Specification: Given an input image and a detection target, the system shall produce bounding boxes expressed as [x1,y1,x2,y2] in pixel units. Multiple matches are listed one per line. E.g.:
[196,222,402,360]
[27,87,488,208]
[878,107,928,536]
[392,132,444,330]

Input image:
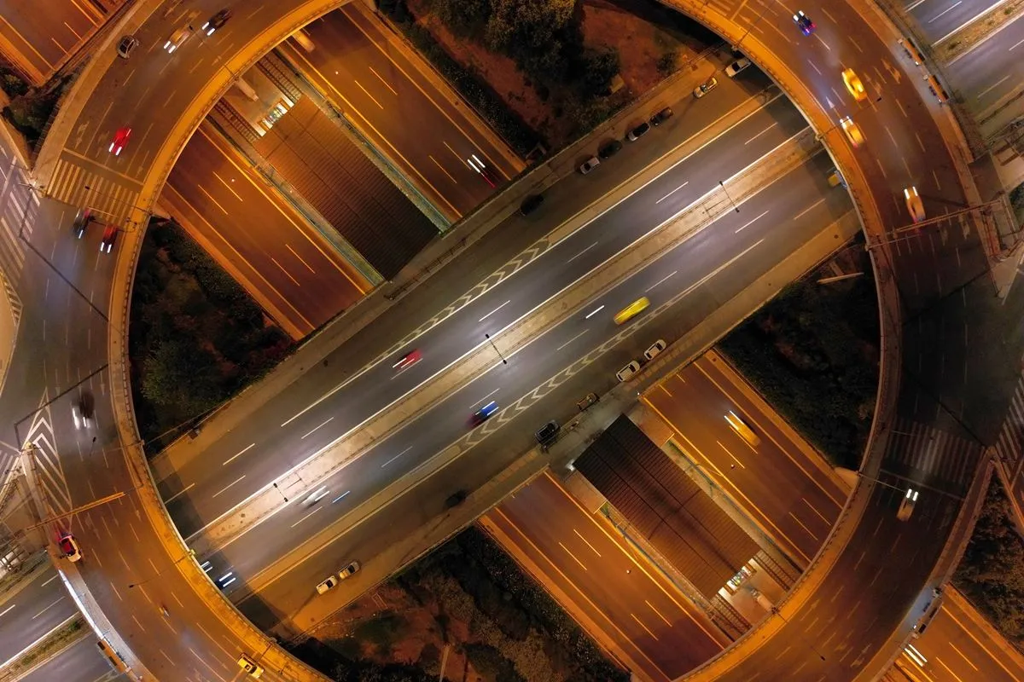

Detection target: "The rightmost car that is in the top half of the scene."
[905,191,922,219]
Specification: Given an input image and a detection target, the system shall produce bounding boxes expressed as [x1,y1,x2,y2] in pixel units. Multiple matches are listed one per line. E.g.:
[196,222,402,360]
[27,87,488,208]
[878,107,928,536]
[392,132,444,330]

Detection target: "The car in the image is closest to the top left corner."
[117,33,139,59]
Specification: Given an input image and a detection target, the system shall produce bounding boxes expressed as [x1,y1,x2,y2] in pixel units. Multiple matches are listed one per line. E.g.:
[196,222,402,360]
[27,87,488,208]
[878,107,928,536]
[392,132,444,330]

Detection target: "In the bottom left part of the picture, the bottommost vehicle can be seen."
[237,653,264,677]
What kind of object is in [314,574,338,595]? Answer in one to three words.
car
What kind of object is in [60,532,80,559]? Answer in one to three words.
car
